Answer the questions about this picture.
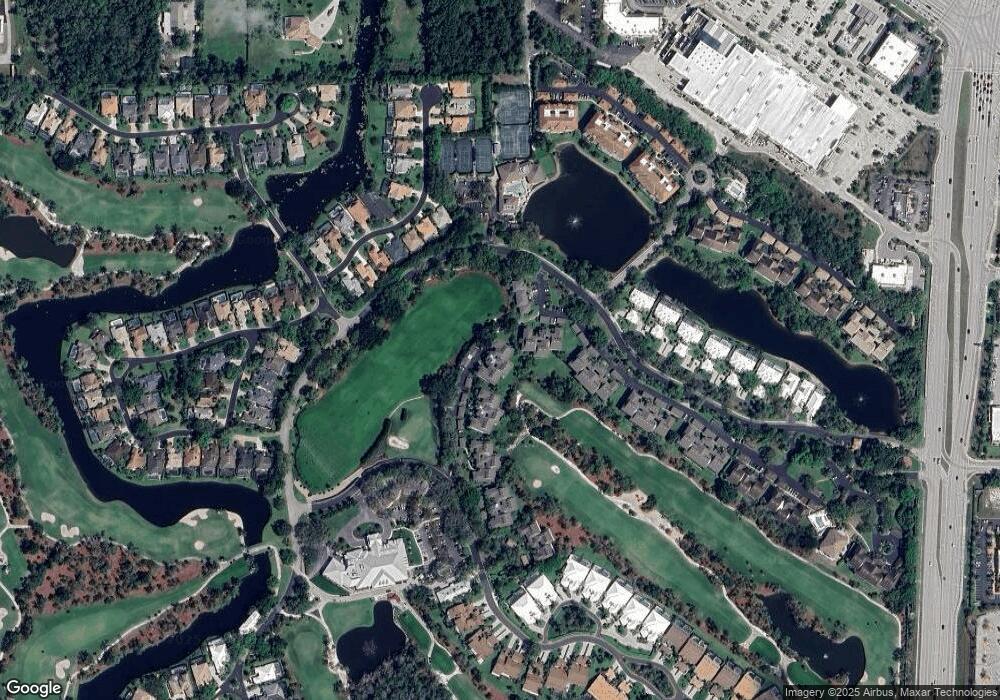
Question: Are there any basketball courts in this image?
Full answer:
No, the photo shows no basketball court.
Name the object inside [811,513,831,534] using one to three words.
swimming pool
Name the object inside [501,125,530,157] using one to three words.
tennis court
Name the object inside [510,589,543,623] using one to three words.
house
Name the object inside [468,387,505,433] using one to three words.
building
